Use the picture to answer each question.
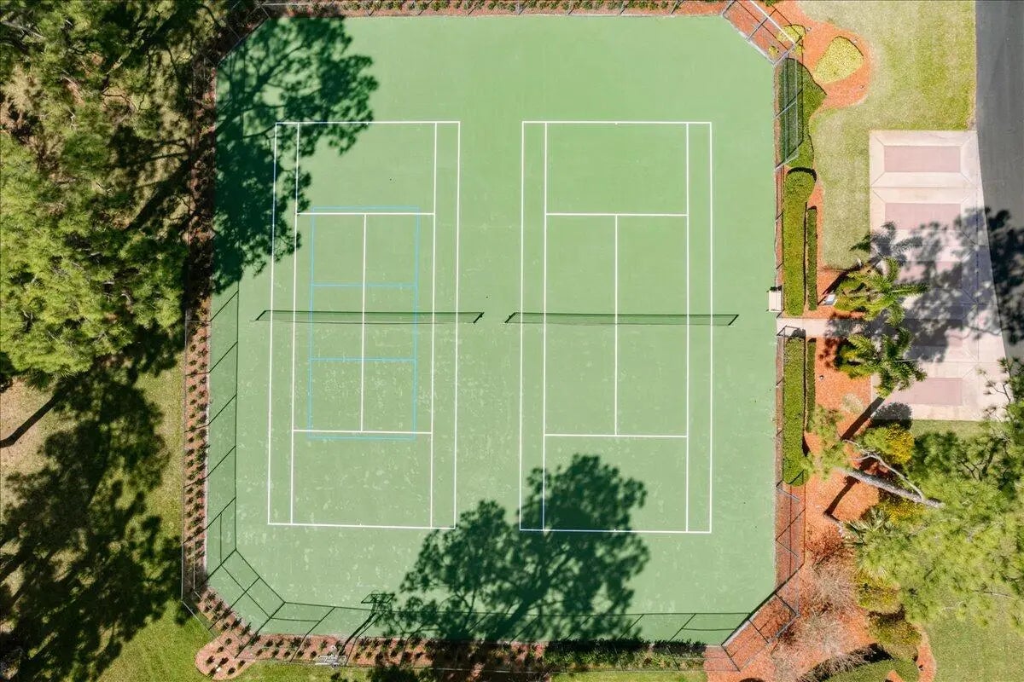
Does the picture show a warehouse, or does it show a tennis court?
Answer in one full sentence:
Of the two, only a tennis court appears.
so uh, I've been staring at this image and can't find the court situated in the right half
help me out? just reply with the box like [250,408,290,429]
[487,14,776,646]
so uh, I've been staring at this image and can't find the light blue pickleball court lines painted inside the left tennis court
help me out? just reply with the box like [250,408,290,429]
[309,206,419,440]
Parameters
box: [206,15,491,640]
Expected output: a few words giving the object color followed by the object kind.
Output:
green tennis court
